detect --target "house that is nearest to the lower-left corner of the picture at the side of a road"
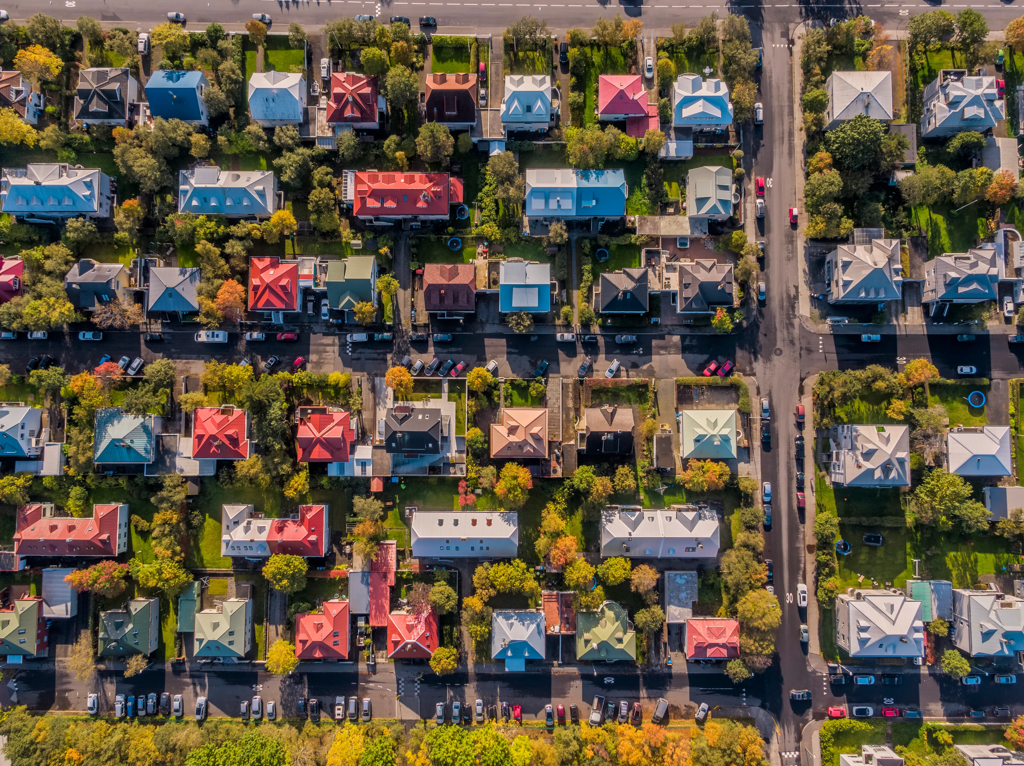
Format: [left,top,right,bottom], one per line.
[0,595,55,664]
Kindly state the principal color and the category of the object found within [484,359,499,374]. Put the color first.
white car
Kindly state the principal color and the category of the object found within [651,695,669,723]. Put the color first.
gray vehicle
